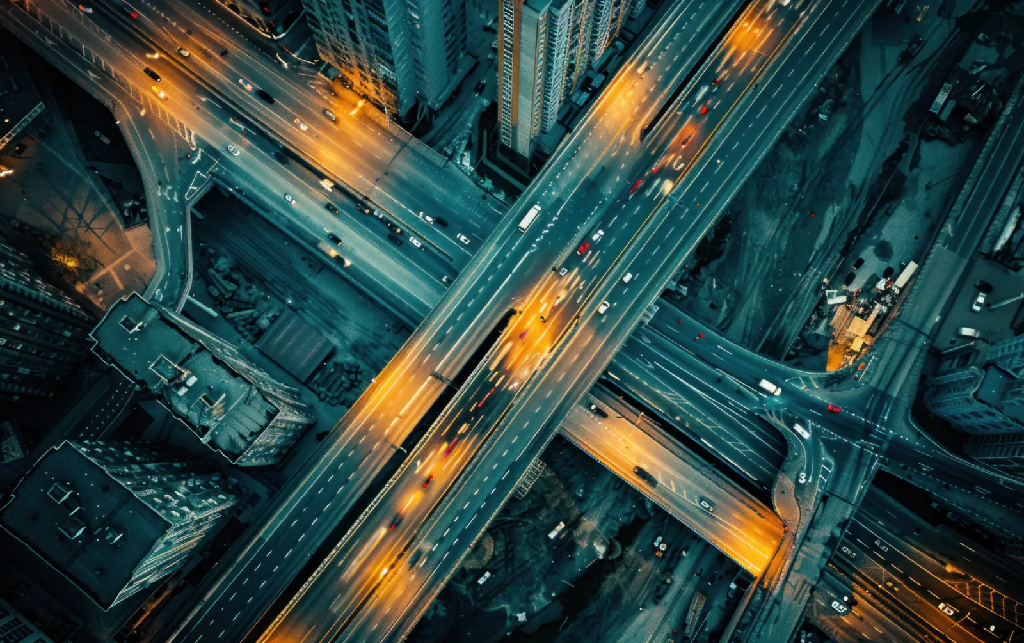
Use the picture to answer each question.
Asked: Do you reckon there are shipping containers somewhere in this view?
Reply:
Yes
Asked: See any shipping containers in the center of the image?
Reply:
No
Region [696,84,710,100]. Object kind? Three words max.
vehicle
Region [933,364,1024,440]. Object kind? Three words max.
building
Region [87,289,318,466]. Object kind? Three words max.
building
